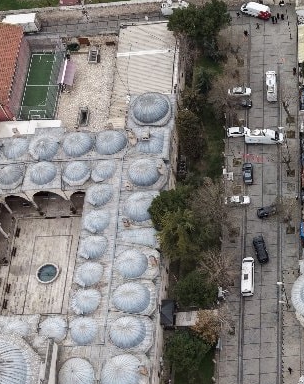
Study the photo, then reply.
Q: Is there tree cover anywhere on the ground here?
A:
Yes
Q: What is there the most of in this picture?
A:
buildings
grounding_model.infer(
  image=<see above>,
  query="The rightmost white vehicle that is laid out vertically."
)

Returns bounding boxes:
[263,68,277,101]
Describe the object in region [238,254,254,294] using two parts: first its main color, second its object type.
white vehicle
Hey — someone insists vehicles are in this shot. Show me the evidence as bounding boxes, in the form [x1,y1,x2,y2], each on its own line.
[241,161,253,184]
[241,0,272,17]
[251,234,268,263]
[238,254,254,294]
[241,125,284,144]
[227,84,251,96]
[225,125,244,137]
[228,97,252,108]
[263,68,277,101]
[224,192,250,205]
[253,201,278,216]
